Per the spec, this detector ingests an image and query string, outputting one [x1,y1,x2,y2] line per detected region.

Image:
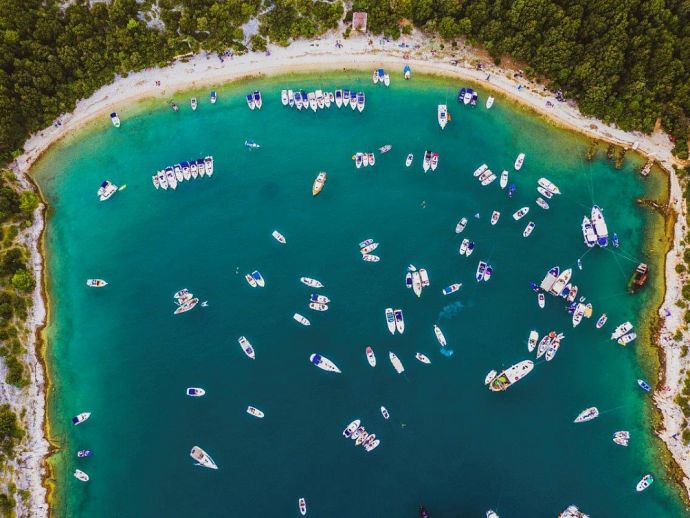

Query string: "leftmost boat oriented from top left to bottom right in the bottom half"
[73,468,90,482]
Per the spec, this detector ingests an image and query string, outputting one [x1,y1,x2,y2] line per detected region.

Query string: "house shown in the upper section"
[352,11,368,40]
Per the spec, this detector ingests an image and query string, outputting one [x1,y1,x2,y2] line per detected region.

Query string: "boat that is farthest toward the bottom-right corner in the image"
[637,473,656,492]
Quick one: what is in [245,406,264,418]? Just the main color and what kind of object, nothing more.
white boat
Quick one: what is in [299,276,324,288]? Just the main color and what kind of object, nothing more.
white boat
